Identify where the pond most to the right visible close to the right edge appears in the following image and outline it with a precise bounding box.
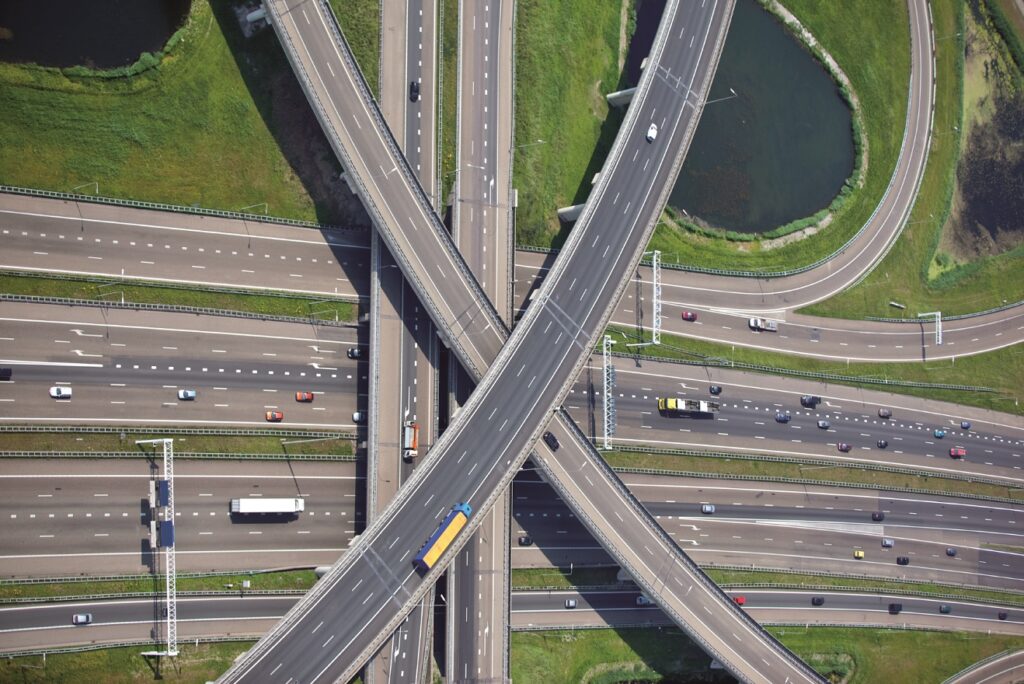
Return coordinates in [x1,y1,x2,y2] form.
[931,0,1024,277]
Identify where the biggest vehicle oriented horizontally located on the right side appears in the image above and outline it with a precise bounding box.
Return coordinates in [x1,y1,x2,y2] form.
[658,399,720,414]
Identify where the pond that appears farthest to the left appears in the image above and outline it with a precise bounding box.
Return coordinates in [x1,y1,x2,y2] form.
[0,0,189,76]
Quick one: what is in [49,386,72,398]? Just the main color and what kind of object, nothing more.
white vehicle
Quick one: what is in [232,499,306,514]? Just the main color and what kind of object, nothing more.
white vehicle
